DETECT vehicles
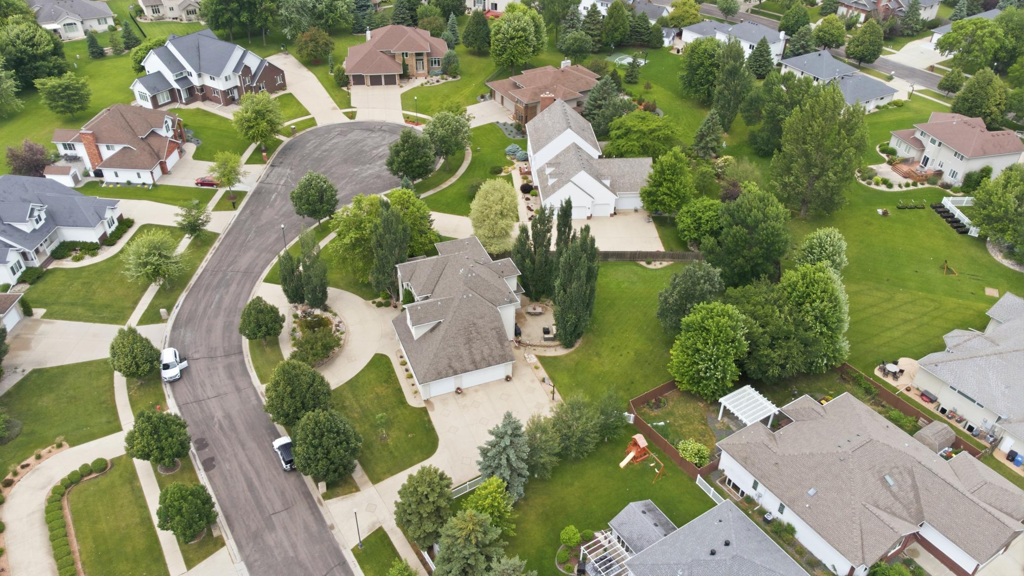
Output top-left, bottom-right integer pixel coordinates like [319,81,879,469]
[191,174,223,189]
[158,342,190,380]
[268,433,300,471]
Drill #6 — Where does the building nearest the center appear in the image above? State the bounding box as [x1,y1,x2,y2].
[391,236,533,399]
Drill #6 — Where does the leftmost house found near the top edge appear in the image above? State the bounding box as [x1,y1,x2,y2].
[33,0,118,39]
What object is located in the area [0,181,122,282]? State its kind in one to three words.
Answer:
house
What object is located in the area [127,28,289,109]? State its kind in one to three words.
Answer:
house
